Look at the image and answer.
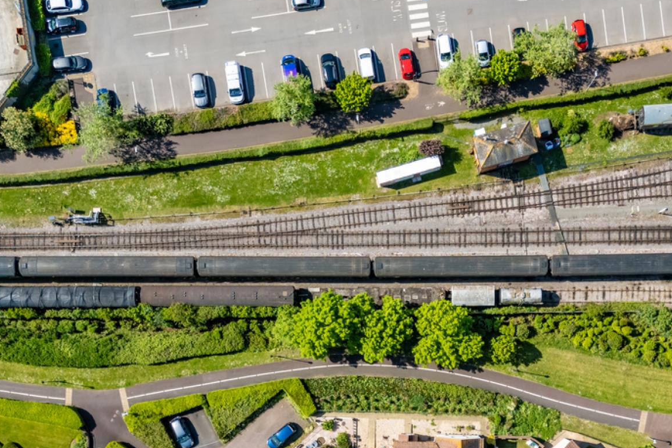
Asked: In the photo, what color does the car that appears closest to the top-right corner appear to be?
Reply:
red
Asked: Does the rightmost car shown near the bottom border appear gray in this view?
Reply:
No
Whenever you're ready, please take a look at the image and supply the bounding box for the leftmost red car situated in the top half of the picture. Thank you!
[396,46,416,80]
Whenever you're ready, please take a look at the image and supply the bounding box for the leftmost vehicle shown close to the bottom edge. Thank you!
[168,415,194,448]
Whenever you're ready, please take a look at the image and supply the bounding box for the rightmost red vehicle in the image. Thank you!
[570,17,591,52]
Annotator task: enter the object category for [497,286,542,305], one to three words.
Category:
rail car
